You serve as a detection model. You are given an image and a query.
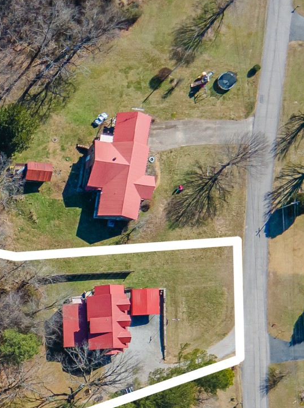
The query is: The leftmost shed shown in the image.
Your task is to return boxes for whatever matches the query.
[24,163,54,184]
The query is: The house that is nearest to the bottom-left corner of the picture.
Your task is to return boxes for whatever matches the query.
[59,285,131,355]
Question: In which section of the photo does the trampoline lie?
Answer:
top right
